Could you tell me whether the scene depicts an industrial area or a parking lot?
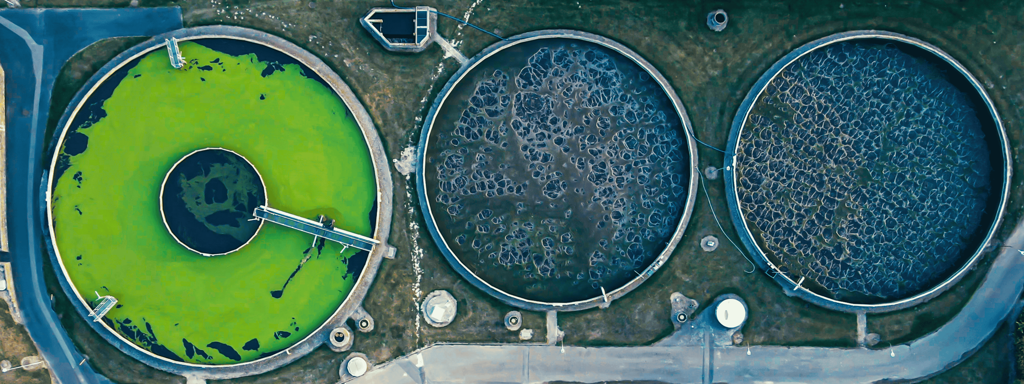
industrial area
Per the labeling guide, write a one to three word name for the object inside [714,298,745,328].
storage tank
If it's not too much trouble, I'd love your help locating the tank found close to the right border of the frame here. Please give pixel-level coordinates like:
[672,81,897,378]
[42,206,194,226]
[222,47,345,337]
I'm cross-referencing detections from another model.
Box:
[731,35,1011,306]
